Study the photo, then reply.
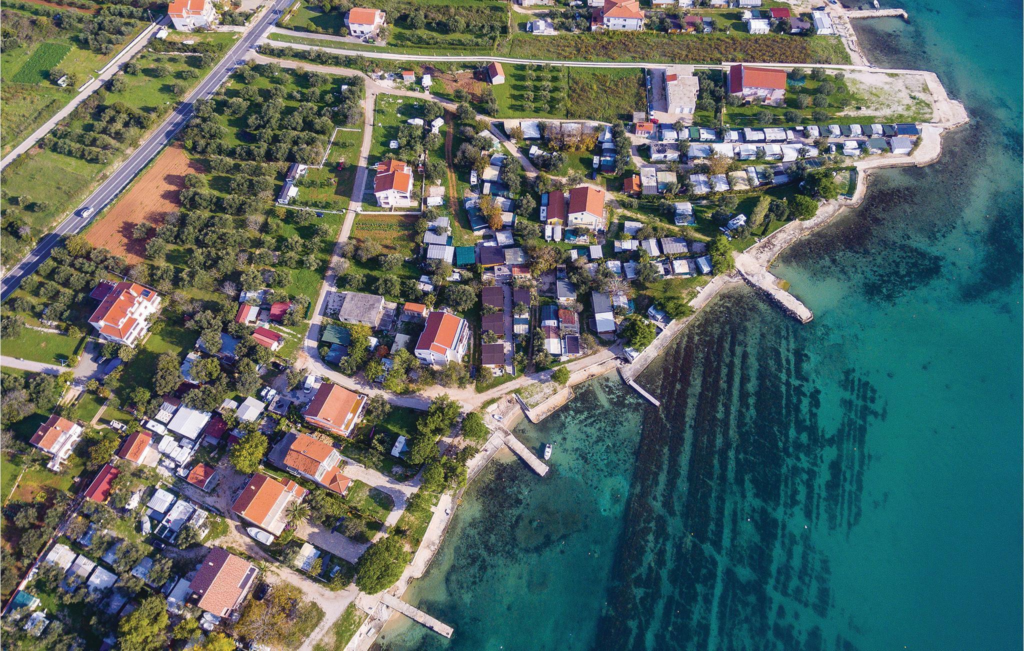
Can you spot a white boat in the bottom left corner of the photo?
Yes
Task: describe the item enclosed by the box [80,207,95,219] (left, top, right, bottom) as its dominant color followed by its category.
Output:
white vehicle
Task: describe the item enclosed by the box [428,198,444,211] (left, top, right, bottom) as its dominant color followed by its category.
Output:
white vehicle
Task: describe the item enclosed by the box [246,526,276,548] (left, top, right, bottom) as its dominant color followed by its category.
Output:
white boat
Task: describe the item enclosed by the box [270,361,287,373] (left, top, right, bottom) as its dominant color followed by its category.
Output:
black vehicle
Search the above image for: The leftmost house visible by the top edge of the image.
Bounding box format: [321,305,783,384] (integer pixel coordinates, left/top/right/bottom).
[169,0,223,29]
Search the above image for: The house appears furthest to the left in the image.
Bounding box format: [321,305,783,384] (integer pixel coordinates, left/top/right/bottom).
[29,415,93,470]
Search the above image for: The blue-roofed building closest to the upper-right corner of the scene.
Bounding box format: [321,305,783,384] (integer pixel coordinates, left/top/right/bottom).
[889,123,919,142]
